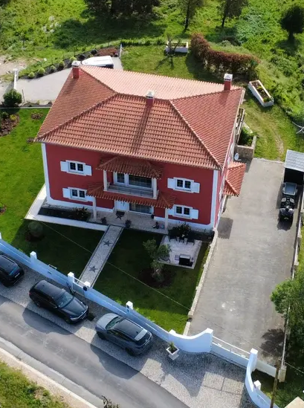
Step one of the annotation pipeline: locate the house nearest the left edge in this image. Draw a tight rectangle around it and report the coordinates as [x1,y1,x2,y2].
[32,63,248,237]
